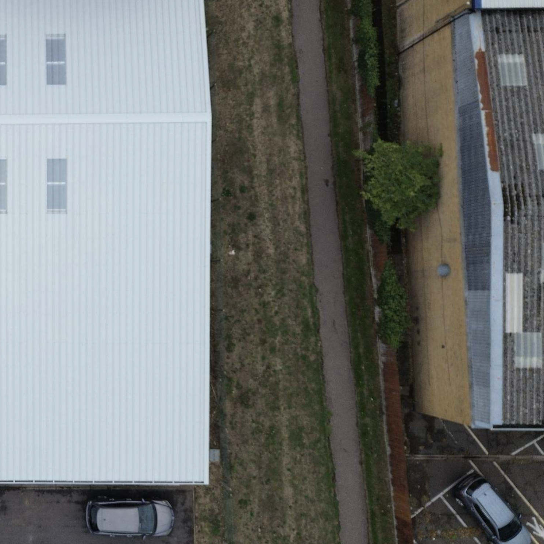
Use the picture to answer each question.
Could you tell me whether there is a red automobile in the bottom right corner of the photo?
No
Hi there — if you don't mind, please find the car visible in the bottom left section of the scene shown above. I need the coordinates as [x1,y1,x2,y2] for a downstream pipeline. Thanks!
[84,496,174,544]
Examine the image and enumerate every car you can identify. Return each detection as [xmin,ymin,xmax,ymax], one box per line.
[451,465,531,544]
[84,496,174,544]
